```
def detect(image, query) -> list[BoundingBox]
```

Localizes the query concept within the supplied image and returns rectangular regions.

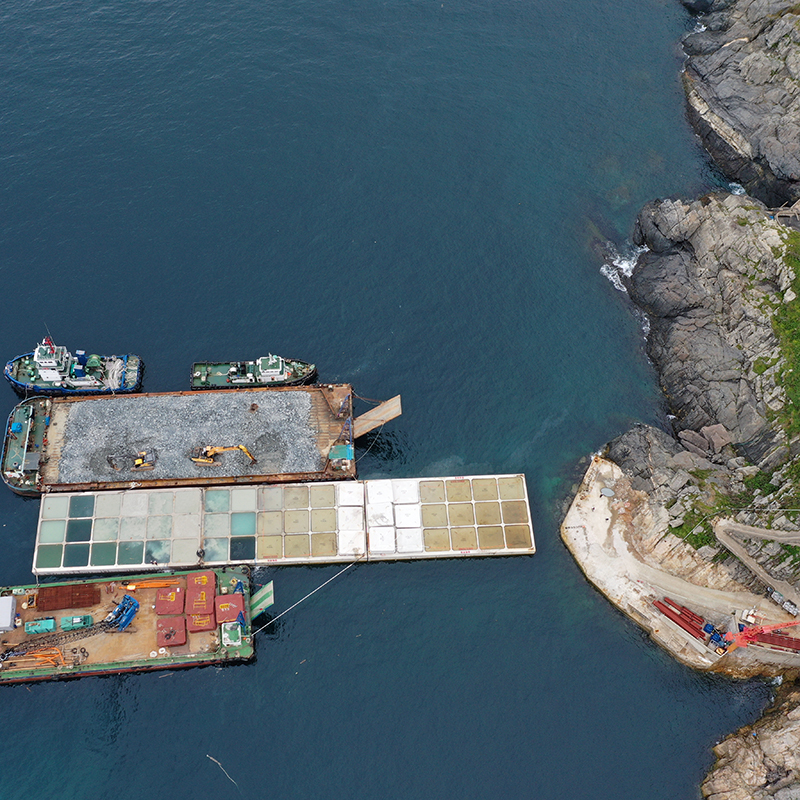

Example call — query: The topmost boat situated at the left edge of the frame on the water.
[2,334,144,395]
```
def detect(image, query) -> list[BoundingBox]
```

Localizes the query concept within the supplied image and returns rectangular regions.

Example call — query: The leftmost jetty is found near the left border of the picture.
[32,488,203,577]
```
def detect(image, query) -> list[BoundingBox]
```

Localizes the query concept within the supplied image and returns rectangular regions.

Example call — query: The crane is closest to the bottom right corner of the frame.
[723,612,800,655]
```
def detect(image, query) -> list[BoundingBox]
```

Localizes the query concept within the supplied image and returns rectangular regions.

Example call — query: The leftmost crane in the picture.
[2,593,141,659]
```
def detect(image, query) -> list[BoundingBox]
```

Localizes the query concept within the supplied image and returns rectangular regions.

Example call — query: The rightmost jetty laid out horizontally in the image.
[364,474,536,562]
